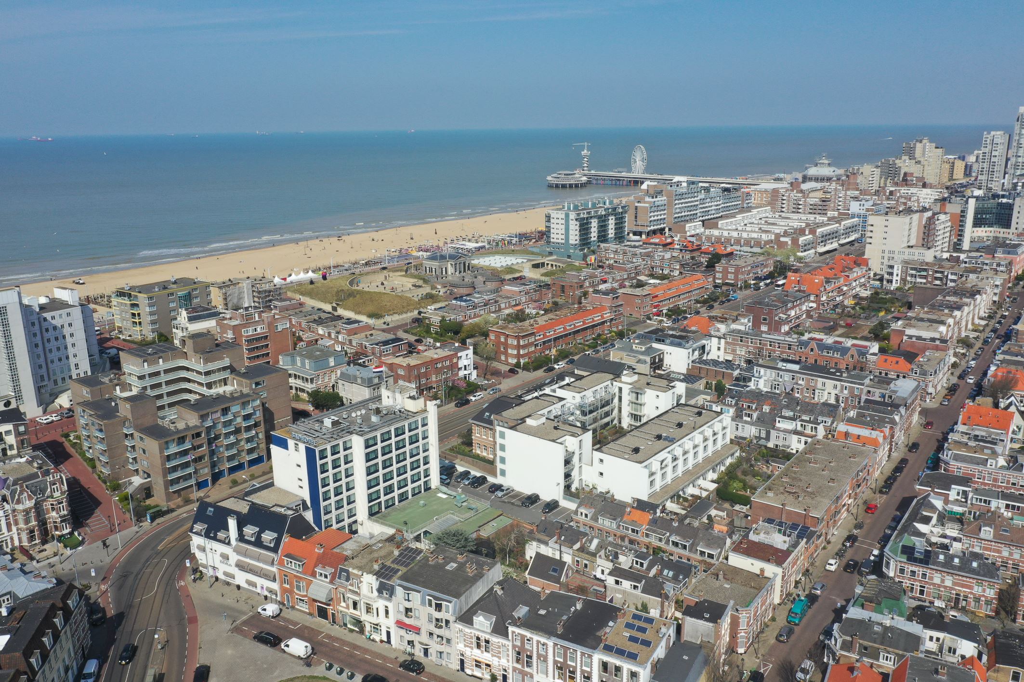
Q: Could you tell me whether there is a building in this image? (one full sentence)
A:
Yes, a building can be made out from above.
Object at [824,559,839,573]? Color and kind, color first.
white car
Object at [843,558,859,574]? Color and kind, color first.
black car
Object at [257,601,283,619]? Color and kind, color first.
white vehicle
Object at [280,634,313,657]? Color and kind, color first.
white vehicle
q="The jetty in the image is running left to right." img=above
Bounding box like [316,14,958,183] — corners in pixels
[580,170,793,187]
